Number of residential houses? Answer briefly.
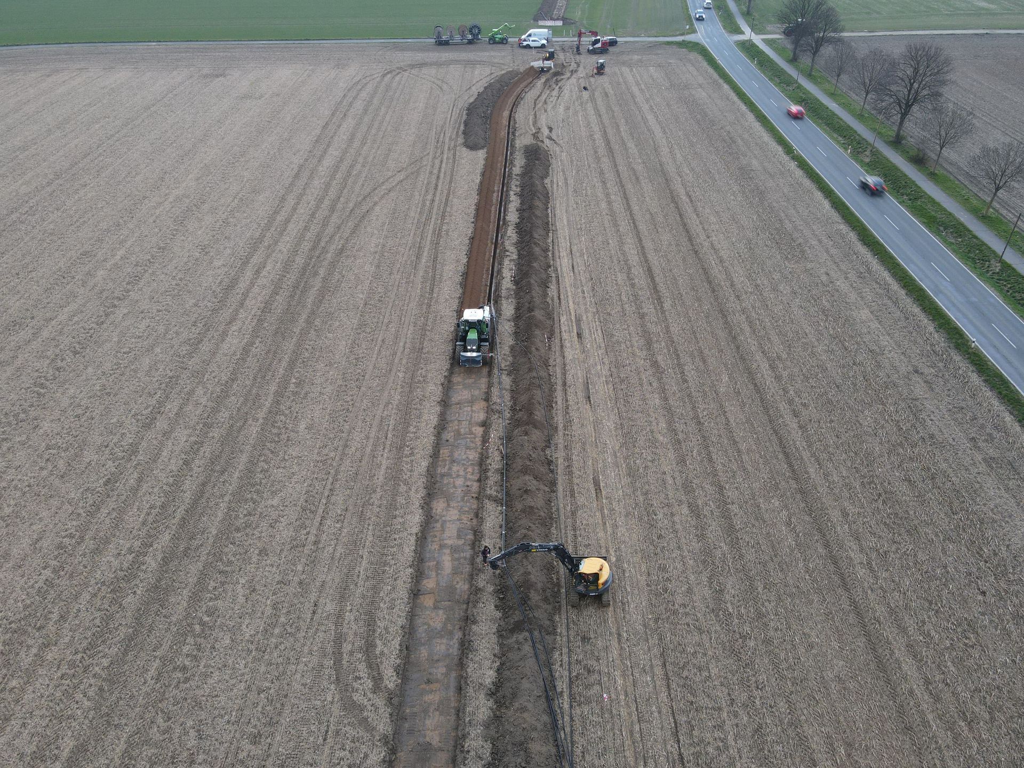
0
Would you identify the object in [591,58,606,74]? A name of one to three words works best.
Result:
work vehicle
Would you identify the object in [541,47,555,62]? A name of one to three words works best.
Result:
work vehicle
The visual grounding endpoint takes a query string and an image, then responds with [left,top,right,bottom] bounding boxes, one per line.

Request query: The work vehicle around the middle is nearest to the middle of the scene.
[456,306,504,372]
